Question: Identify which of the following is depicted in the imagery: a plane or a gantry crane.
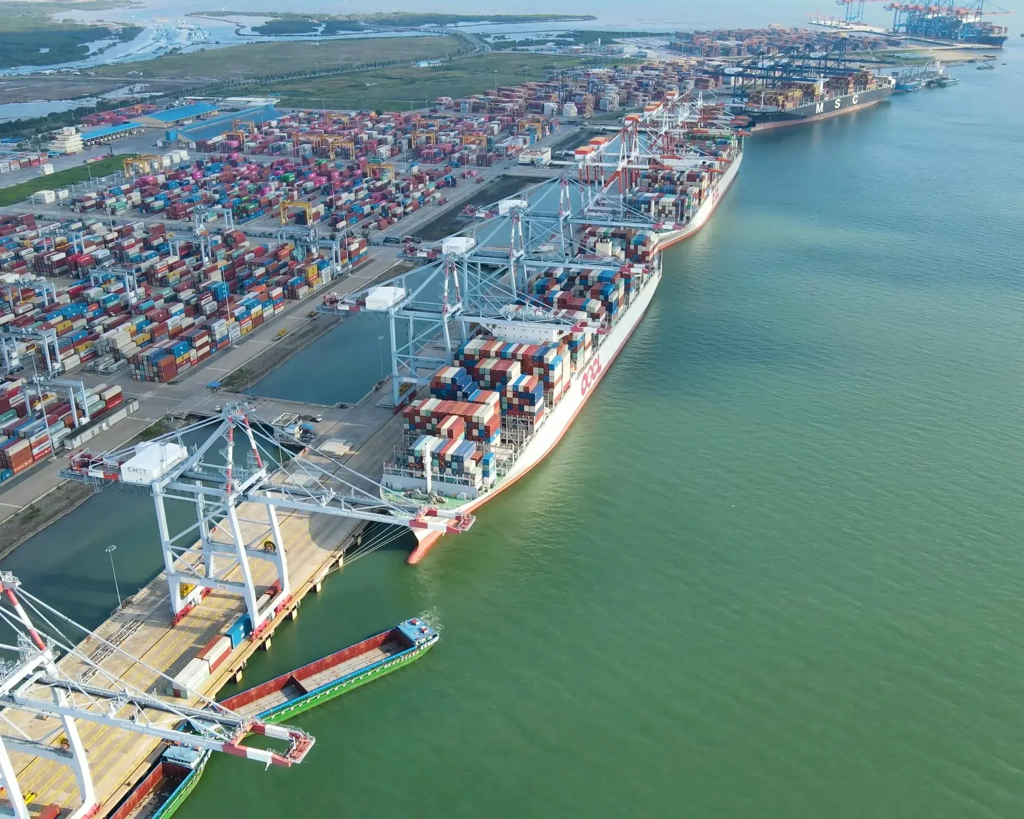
gantry crane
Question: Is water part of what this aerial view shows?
Yes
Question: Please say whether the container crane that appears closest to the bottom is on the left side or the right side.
left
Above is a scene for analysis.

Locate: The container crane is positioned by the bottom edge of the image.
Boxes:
[0,580,317,819]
